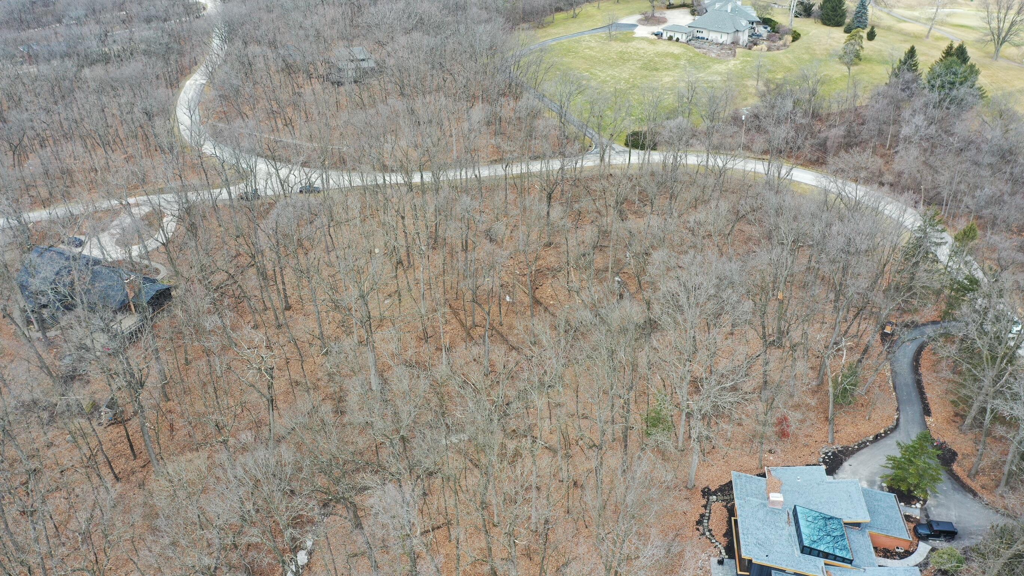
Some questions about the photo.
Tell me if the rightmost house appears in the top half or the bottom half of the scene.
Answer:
bottom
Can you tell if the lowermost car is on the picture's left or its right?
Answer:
right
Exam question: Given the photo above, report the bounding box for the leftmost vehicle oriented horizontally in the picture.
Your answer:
[60,232,87,245]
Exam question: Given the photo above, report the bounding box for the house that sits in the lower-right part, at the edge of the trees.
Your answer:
[728,466,921,576]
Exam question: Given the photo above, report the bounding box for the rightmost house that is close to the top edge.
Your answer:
[663,0,781,44]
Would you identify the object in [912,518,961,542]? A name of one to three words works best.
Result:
car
